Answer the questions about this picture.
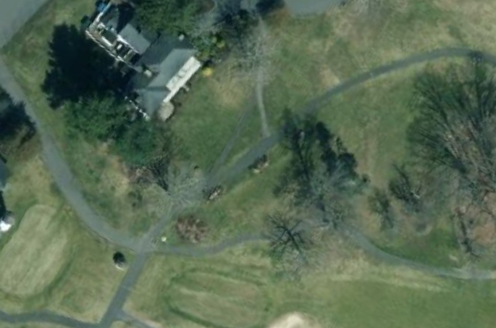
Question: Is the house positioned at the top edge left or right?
left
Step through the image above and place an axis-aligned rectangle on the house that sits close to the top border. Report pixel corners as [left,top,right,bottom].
[79,2,204,126]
